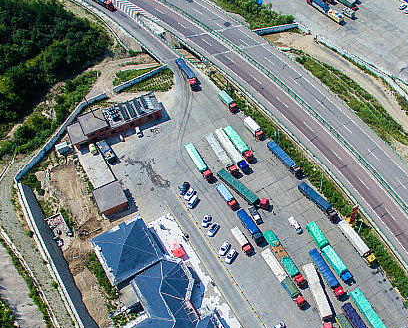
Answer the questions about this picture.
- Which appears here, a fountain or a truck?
truck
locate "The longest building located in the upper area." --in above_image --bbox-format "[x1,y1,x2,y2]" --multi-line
[66,91,163,150]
